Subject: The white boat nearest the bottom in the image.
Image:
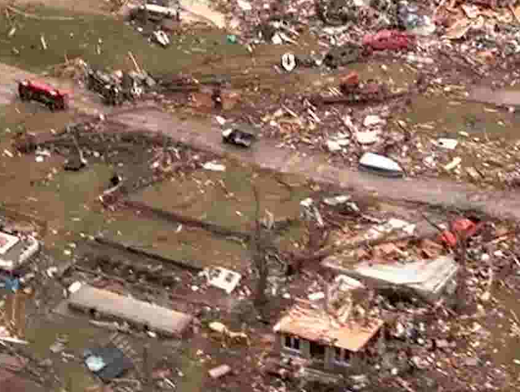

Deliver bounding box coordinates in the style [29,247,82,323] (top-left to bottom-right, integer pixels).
[355,150,402,174]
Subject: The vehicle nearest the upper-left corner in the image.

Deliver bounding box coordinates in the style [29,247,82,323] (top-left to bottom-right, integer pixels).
[16,75,70,110]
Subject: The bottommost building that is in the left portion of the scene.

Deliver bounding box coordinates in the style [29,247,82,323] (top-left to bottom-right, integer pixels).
[67,281,195,344]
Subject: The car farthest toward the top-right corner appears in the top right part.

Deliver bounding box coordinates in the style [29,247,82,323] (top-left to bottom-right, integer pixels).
[365,33,410,52]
